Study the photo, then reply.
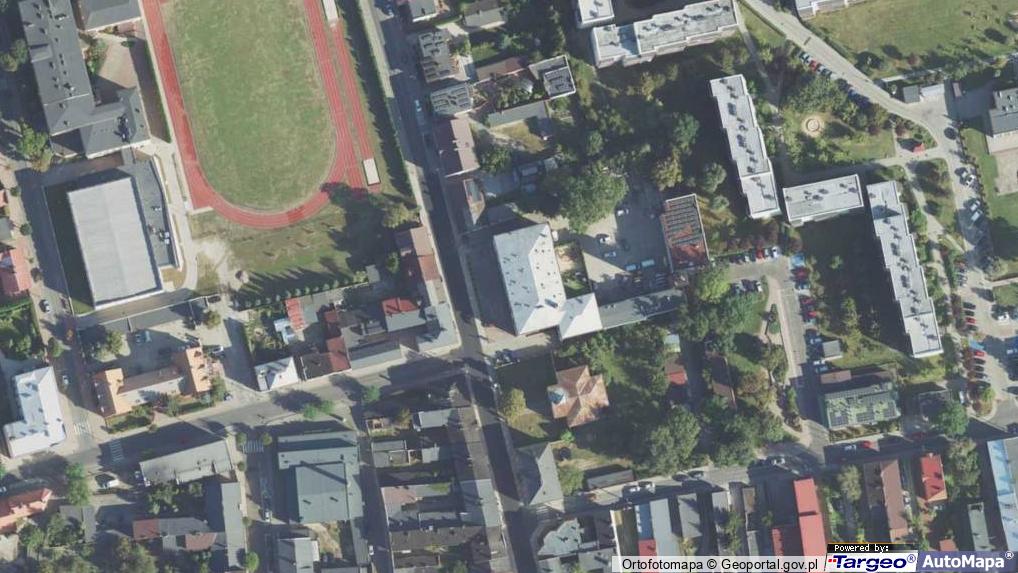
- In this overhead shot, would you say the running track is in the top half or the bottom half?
top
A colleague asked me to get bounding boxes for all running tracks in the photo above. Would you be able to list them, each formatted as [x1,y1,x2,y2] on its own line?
[144,0,381,229]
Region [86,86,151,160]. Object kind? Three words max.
building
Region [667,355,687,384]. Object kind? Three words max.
barn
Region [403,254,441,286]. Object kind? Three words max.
house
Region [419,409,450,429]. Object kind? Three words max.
shed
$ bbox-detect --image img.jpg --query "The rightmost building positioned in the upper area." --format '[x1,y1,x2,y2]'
[988,86,1018,139]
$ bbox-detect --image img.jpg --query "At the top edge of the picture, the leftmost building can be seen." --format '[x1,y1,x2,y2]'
[19,0,96,139]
